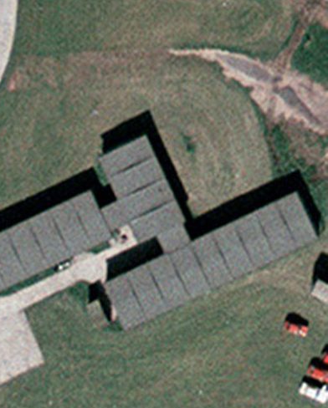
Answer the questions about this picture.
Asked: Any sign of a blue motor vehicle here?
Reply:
No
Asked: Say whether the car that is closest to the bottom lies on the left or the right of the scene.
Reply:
right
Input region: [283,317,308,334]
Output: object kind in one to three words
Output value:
car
